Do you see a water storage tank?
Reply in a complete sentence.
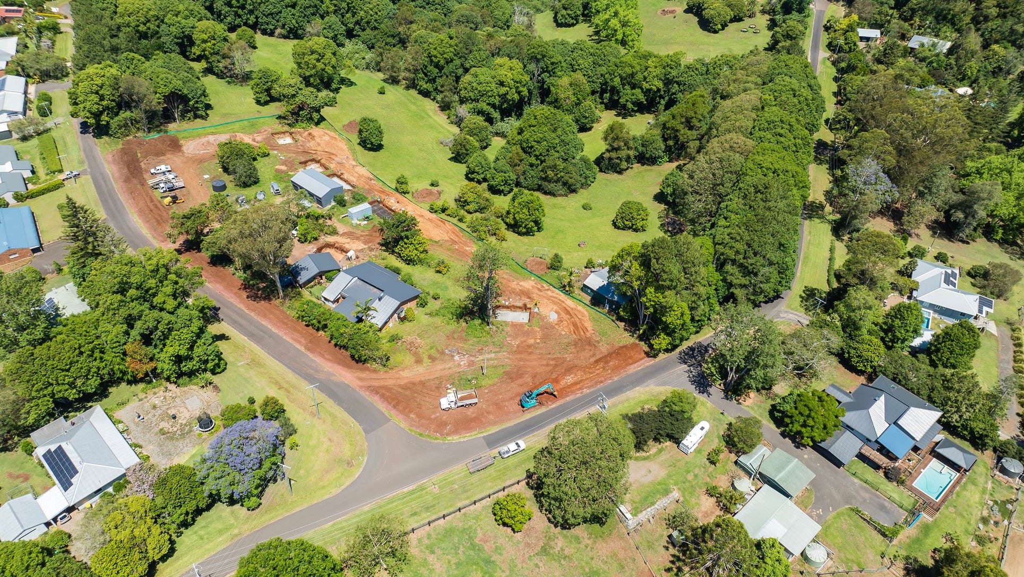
Yes, a water storage tank appears in the view.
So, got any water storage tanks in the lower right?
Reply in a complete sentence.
Yes, in the lower right there is a water storage tank.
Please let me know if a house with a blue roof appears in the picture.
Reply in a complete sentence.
Yes, there's a house with a blue roof here.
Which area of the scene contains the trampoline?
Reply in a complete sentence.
The trampoline sits in the bottom left section of the image.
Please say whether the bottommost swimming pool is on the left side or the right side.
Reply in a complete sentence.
The bottommost swimming pool appears in the right half of the scene.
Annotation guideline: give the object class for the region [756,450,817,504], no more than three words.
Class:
building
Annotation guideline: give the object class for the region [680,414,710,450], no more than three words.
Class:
camper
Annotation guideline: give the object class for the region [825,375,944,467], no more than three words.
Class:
house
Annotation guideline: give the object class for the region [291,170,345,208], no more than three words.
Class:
shed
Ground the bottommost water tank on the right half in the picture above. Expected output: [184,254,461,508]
[797,537,830,570]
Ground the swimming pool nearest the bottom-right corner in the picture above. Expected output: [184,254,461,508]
[913,459,959,501]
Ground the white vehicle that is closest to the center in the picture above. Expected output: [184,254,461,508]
[438,389,479,411]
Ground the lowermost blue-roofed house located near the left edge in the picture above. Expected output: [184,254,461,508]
[0,206,43,266]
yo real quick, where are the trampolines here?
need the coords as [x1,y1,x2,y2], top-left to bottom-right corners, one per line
[193,411,214,431]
